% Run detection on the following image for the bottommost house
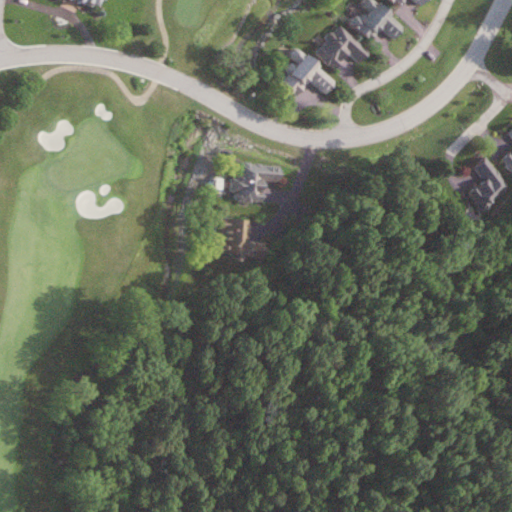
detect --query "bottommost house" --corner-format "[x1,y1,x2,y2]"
[224,216,266,257]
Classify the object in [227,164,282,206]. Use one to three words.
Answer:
house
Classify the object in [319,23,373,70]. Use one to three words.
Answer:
house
